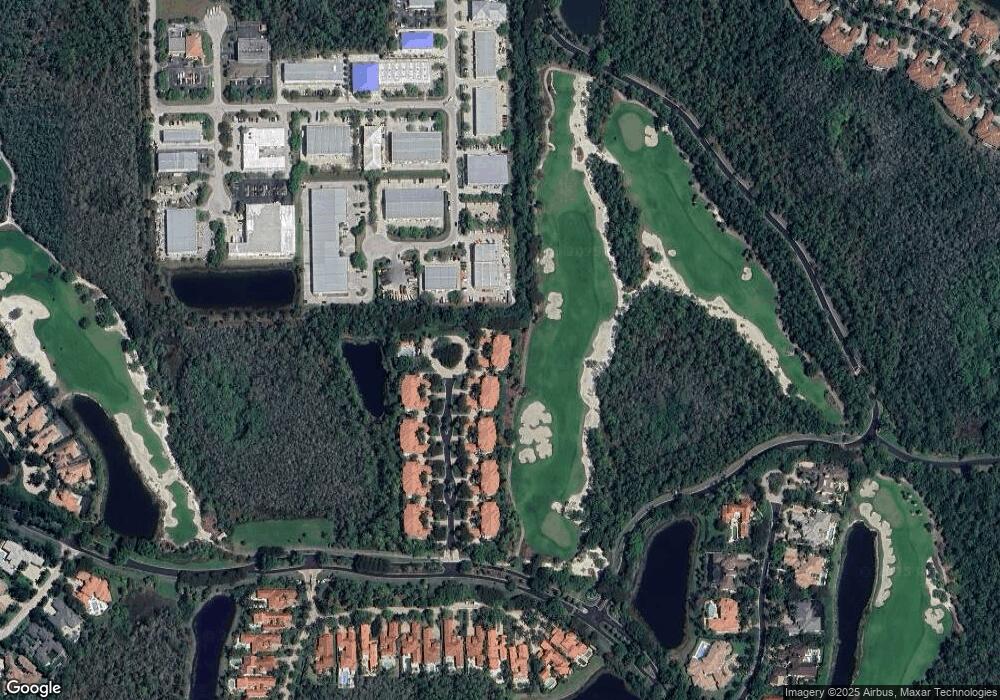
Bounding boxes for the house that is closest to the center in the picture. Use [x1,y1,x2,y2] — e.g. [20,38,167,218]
[479,334,511,369]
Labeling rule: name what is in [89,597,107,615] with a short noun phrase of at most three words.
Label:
swimming pool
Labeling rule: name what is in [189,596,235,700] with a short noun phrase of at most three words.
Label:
pond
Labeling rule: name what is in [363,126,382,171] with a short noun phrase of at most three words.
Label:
building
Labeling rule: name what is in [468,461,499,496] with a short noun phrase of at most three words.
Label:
house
